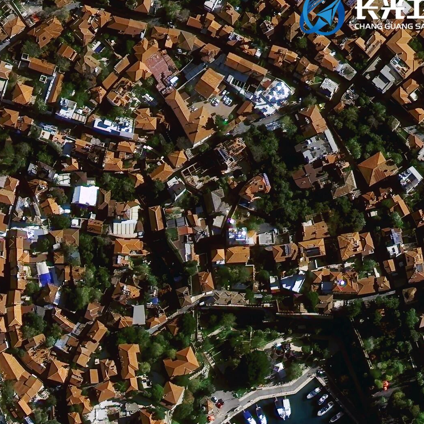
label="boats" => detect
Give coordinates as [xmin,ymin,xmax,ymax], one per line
[283,399,292,416]
[320,394,328,405]
[255,406,267,424]
[319,400,335,415]
[243,410,256,424]
[273,399,286,419]
[308,386,323,397]
[330,411,343,422]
